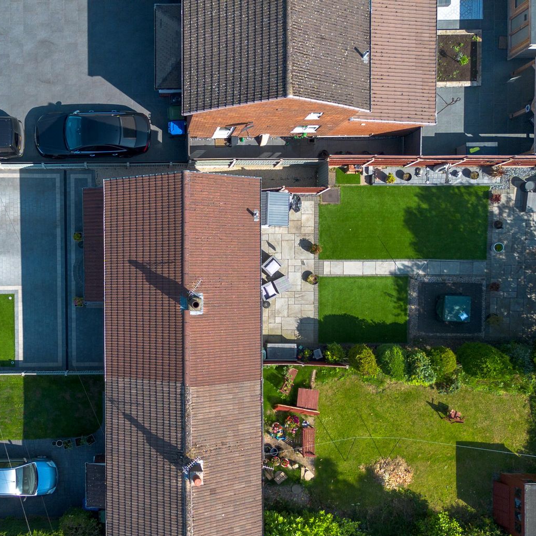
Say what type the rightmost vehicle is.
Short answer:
car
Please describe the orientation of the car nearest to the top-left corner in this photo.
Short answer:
from side to side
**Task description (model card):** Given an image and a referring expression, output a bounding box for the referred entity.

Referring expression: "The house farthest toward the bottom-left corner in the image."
[83,378,263,536]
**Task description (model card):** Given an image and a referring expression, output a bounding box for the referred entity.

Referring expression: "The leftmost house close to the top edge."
[153,0,438,139]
